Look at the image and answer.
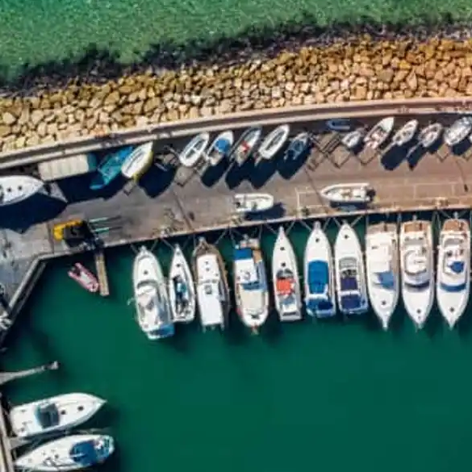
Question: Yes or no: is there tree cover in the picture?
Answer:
No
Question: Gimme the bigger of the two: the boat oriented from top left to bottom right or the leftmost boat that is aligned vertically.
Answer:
the leftmost boat that is aligned vertically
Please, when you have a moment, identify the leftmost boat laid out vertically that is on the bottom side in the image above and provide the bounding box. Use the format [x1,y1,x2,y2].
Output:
[129,237,173,339]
